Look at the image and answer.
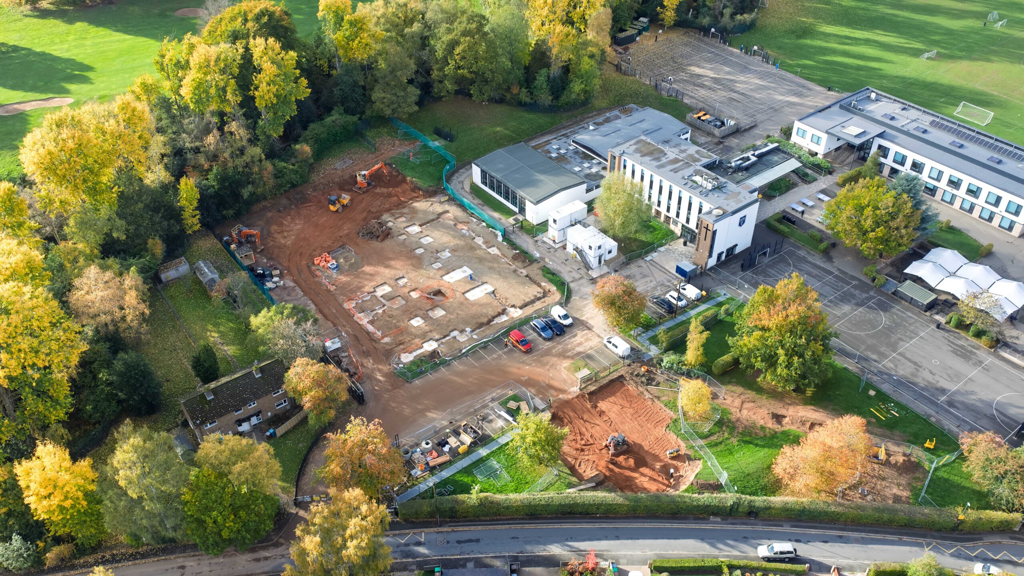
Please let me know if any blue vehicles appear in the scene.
Yes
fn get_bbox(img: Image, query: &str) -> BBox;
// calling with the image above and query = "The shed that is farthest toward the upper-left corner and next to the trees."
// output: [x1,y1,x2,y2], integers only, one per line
[155,255,192,286]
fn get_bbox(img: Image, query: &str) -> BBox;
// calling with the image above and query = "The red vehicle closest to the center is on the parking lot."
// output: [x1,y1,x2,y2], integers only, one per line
[507,327,533,353]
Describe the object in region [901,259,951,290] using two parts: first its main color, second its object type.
white umbrella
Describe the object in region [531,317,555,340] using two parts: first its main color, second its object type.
blue car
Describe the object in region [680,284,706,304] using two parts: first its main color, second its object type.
white vehicle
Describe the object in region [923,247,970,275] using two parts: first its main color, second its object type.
white umbrella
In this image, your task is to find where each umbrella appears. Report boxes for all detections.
[933,275,983,306]
[901,259,951,290]
[954,262,1002,292]
[923,247,970,275]
[987,278,1024,321]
